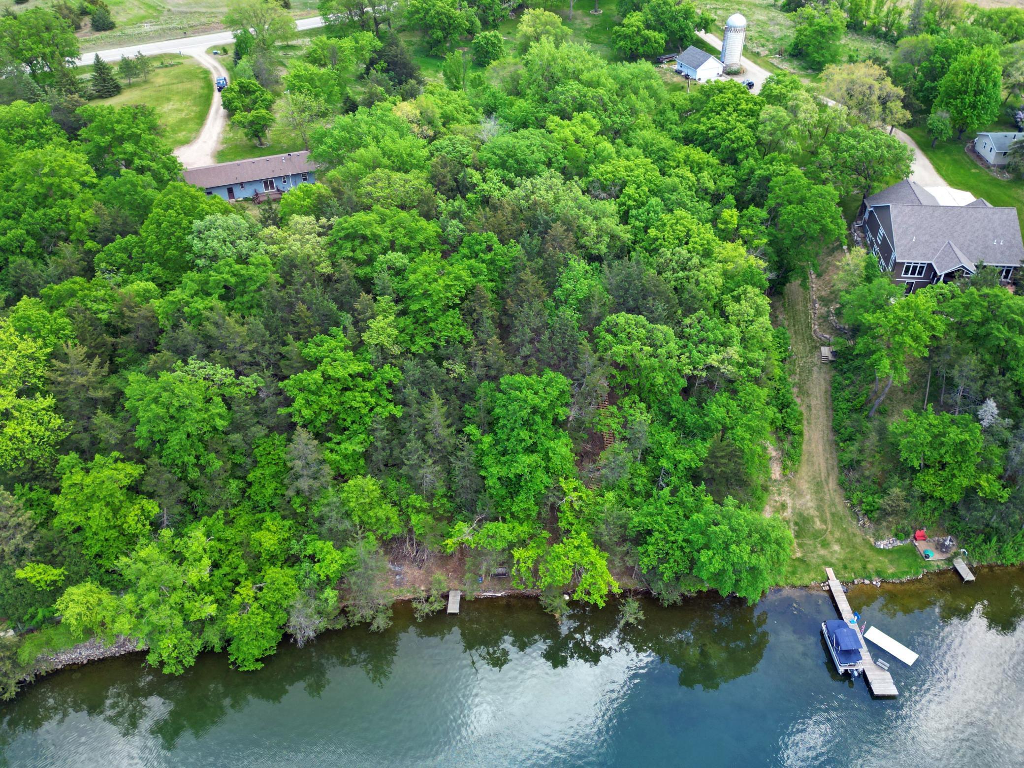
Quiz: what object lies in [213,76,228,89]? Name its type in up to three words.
vehicle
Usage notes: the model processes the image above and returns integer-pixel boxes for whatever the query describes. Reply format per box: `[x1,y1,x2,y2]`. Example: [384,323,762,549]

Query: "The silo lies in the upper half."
[722,16,750,72]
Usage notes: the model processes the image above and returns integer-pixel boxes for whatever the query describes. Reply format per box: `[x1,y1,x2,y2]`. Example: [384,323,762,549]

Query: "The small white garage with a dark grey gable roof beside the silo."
[666,48,722,82]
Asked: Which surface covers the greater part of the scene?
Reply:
trees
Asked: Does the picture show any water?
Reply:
Yes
